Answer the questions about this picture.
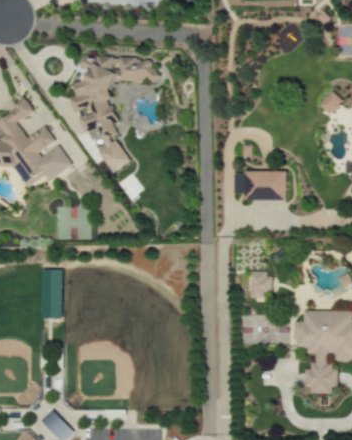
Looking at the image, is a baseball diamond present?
Yes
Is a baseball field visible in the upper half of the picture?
No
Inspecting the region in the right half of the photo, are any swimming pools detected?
Yes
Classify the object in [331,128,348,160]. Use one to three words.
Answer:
swimming pool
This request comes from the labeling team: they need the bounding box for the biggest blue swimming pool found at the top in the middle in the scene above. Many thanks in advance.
[138,98,159,125]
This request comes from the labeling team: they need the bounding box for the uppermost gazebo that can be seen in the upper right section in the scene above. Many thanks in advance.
[322,92,342,113]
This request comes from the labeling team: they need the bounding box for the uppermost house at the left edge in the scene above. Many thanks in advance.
[0,95,74,186]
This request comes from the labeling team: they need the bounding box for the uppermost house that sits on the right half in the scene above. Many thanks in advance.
[235,172,288,200]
